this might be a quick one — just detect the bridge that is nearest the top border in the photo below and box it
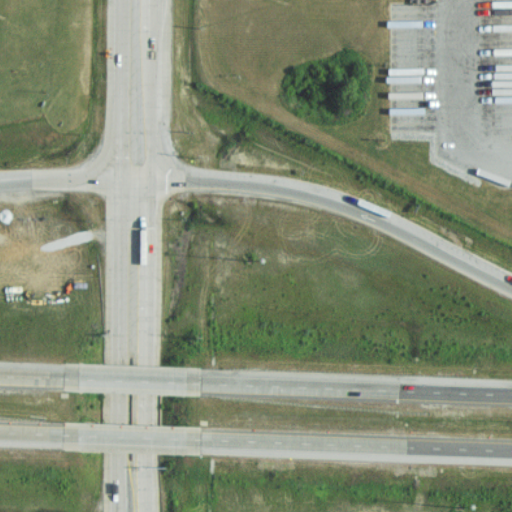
[65,363,201,398]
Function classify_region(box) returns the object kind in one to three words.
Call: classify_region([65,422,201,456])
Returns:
bridge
